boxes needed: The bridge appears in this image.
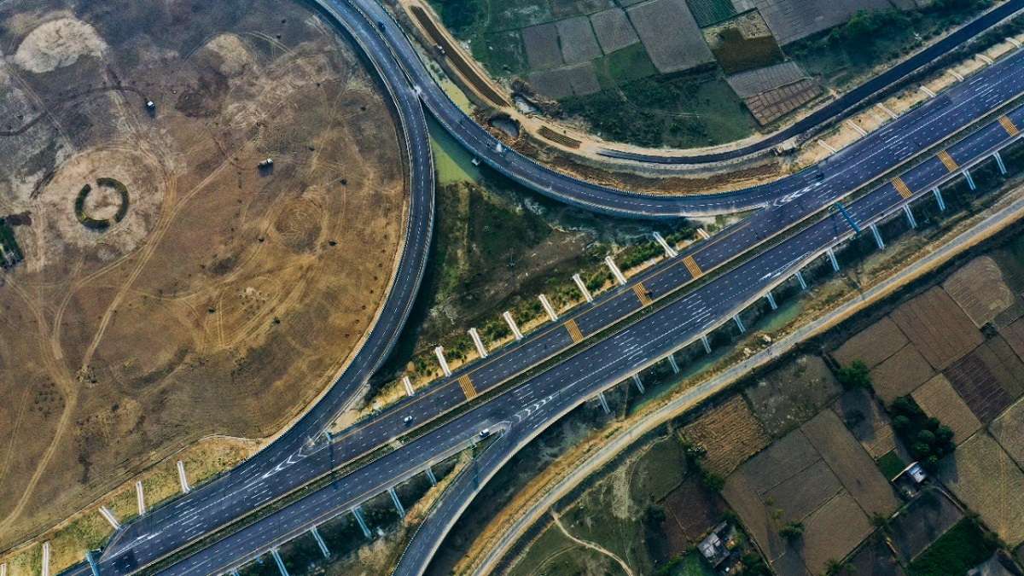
[351,0,854,220]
